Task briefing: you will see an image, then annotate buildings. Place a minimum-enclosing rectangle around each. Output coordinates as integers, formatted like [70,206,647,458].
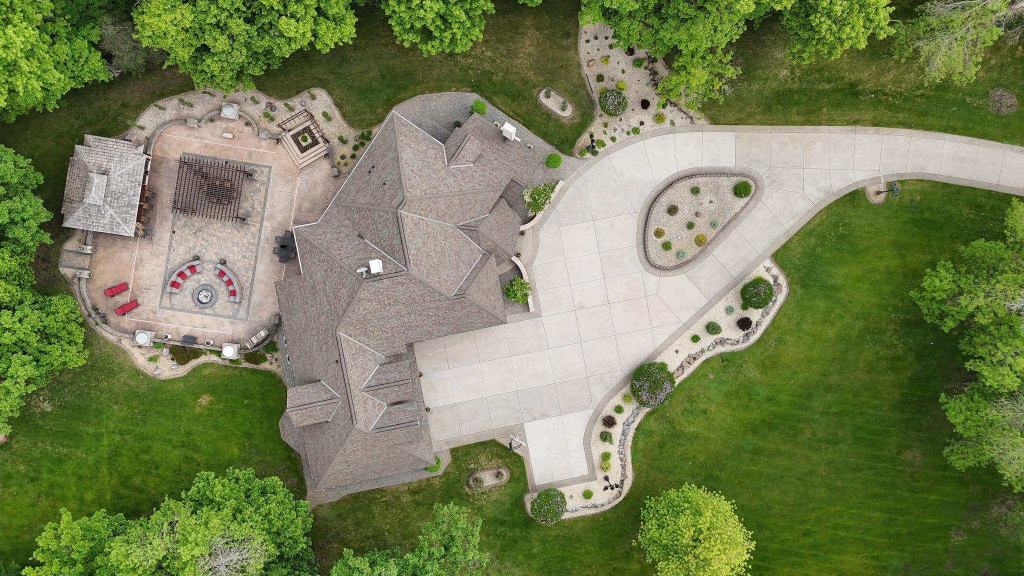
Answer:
[275,110,542,492]
[61,134,146,237]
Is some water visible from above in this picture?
No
